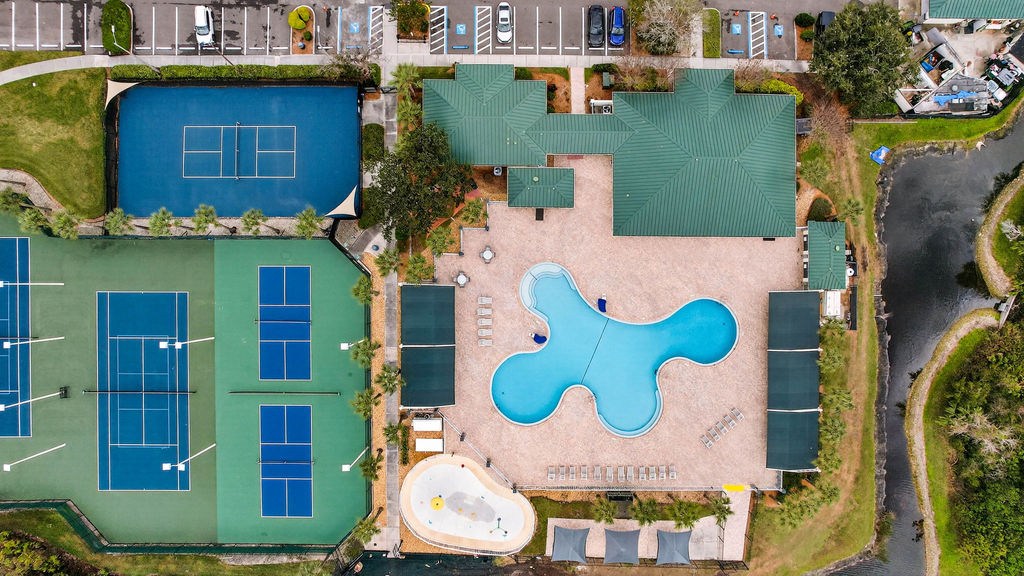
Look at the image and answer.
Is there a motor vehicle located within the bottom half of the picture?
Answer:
No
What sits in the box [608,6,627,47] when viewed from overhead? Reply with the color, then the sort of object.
blue car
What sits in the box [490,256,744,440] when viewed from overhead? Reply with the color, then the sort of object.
blue swimming pool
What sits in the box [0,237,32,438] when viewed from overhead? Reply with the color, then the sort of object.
blue tennis court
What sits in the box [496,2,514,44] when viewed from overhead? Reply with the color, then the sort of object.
white car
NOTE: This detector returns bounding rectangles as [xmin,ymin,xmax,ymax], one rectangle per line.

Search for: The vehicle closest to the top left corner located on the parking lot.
[194,2,216,46]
